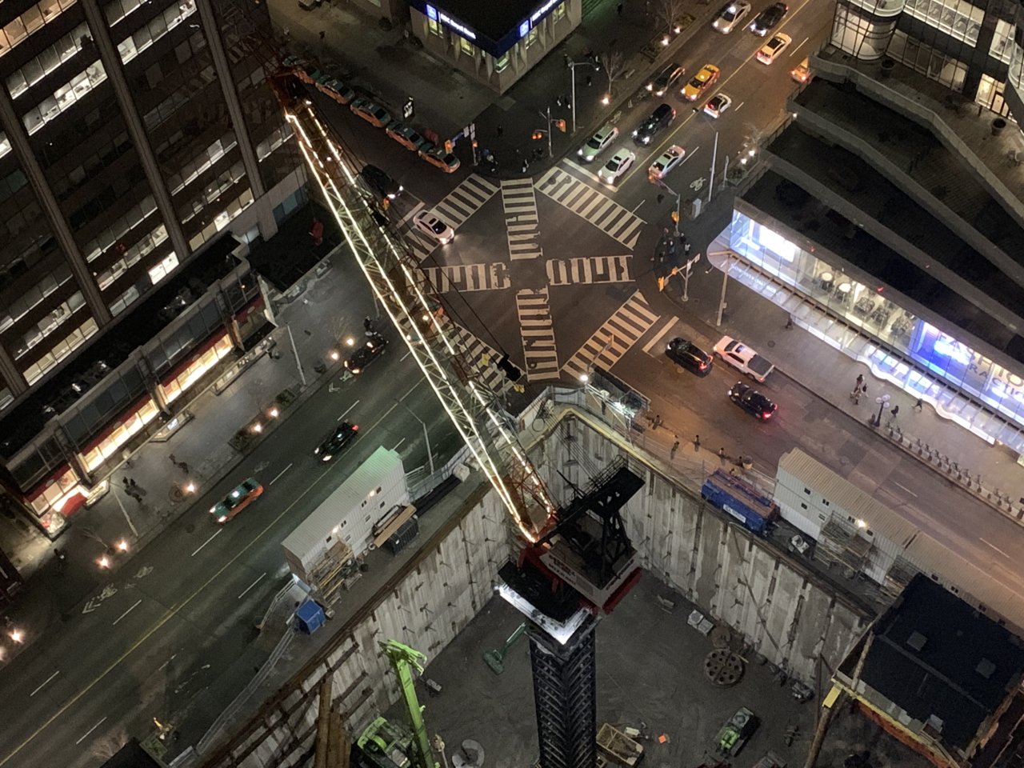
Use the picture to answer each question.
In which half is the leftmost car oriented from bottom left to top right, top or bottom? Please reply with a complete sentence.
It is in the bottom half that the leftmost car oriented from bottom left to top right appears.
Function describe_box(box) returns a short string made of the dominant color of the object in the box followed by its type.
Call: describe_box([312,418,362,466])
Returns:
black car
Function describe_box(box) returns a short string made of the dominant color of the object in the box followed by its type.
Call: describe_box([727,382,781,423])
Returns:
black car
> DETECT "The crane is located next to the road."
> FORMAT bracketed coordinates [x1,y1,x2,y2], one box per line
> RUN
[262,50,651,768]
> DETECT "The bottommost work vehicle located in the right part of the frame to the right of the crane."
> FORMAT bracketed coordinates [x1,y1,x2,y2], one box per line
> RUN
[711,702,761,757]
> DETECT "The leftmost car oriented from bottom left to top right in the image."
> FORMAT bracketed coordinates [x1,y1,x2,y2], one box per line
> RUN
[211,476,264,526]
